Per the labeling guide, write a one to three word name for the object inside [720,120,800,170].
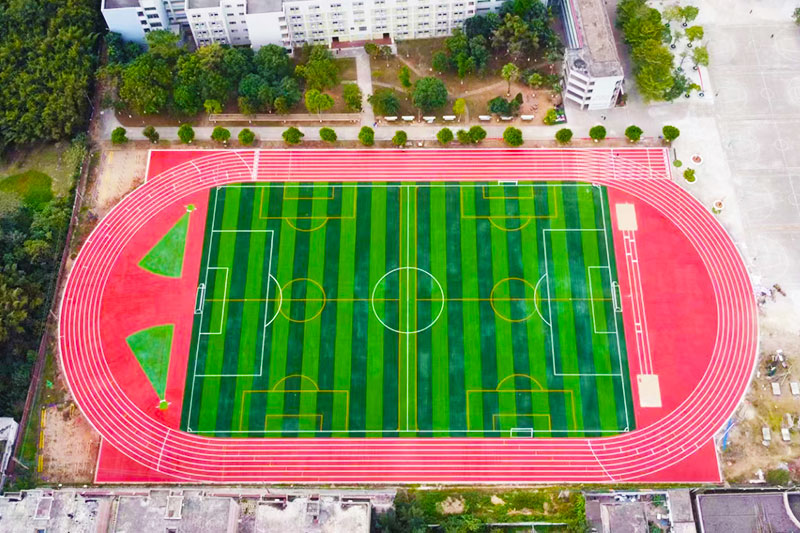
basketball court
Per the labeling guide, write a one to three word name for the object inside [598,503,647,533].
house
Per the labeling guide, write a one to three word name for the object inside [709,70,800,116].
basketball court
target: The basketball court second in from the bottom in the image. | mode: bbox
[730,172,800,227]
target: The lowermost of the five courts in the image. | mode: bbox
[741,228,800,286]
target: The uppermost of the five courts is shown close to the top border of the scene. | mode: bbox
[700,23,800,68]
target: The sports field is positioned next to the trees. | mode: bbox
[180,181,638,437]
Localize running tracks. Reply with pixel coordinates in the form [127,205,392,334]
[59,148,756,482]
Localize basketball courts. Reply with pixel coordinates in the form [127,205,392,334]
[741,228,800,286]
[720,120,800,170]
[709,70,800,116]
[700,23,800,68]
[730,172,800,227]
